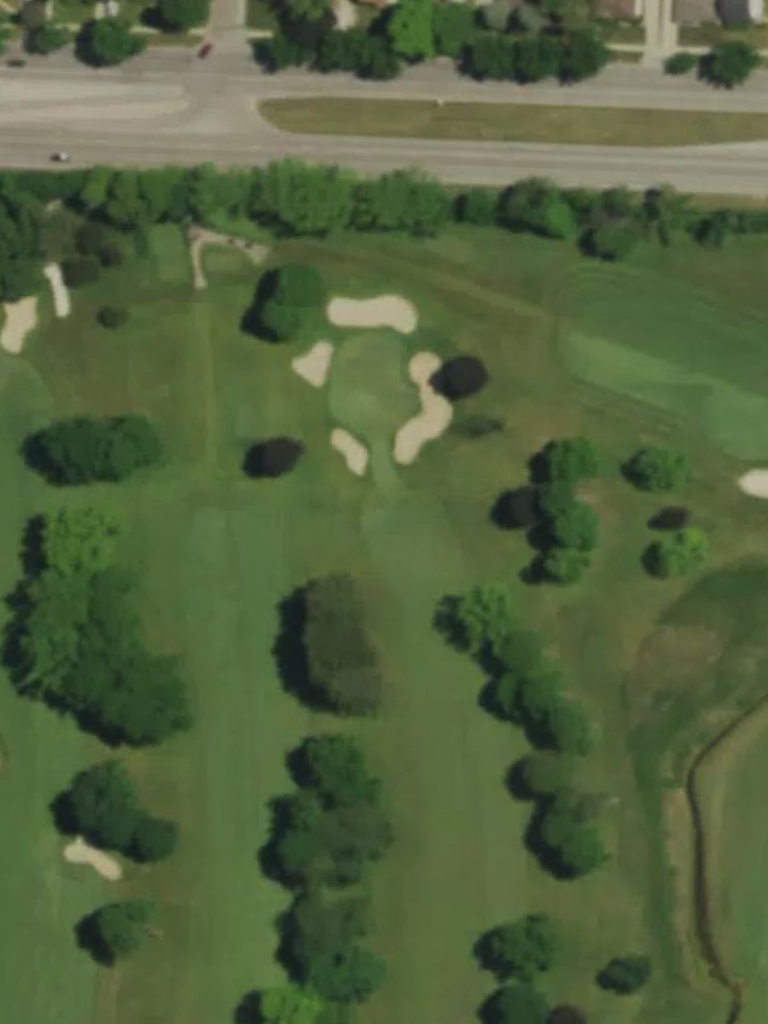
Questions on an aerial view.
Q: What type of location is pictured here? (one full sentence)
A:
What you see here is a golf course.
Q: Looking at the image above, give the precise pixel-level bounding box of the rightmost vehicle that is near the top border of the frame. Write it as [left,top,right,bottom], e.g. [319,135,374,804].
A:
[198,41,212,58]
